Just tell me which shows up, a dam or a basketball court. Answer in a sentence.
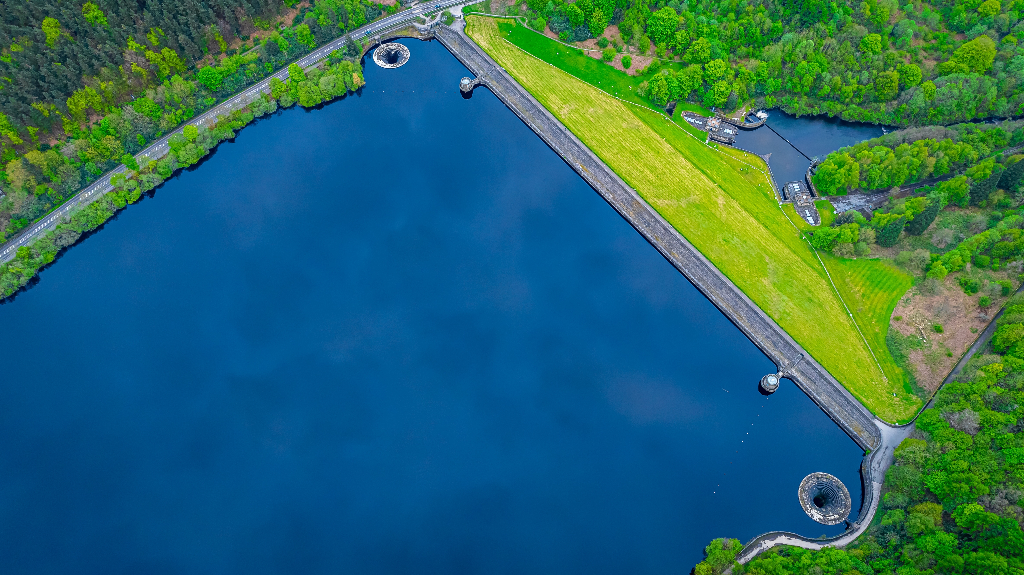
It is a dam that can be seen here.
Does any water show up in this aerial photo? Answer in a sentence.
Yes, some water is visible.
